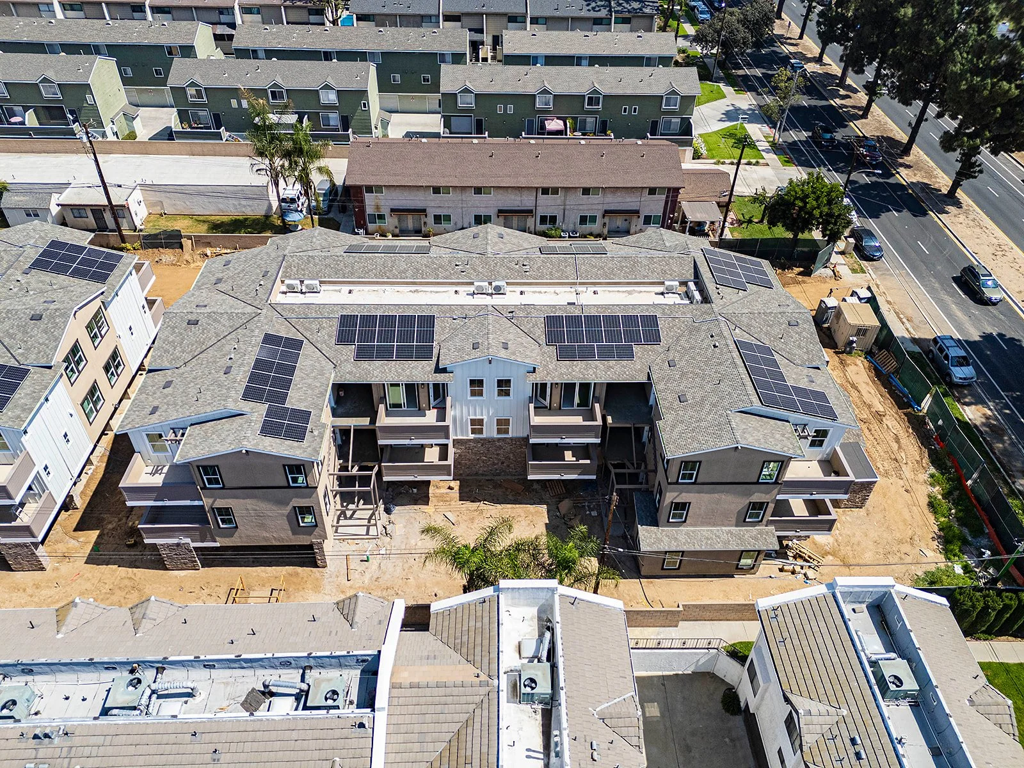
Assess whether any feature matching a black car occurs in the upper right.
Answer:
Yes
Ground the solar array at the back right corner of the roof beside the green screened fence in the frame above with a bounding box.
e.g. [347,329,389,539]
[703,246,779,291]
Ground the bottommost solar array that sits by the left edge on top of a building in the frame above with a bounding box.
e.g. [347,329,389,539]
[0,364,29,405]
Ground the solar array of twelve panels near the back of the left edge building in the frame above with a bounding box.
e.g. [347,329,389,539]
[21,239,124,288]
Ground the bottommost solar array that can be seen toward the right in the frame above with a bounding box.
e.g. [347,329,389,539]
[736,337,843,420]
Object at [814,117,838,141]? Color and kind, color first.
black car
